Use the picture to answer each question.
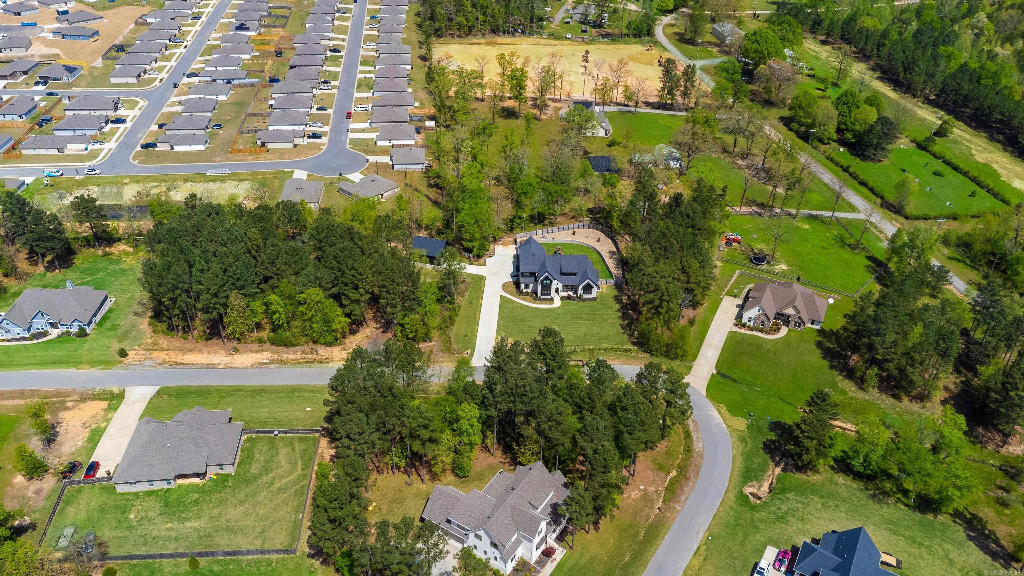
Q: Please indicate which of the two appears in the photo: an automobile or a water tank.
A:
automobile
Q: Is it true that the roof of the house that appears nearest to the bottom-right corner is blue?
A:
Yes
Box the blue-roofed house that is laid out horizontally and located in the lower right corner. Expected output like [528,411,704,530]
[794,528,897,576]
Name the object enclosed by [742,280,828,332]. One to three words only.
house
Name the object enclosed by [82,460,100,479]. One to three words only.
car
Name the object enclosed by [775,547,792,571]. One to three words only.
car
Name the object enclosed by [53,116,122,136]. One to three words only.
house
